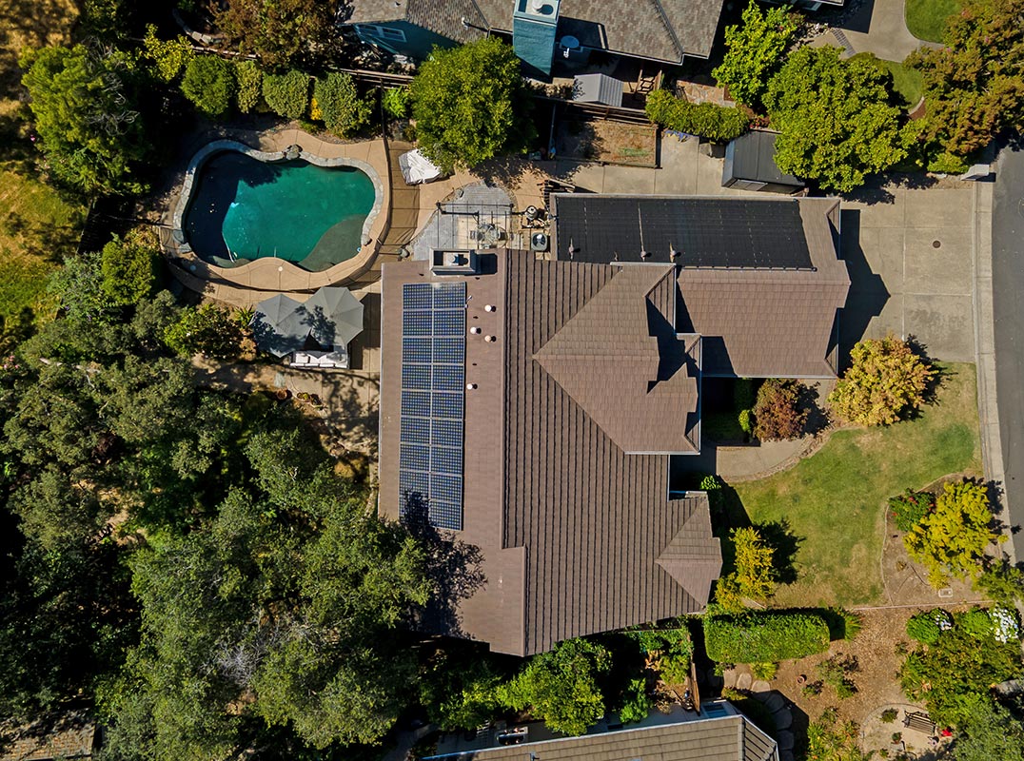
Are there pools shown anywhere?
Yes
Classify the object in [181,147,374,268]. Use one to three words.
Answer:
swimming pool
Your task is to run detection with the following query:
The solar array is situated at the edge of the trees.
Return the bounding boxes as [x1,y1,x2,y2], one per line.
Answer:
[401,277,465,534]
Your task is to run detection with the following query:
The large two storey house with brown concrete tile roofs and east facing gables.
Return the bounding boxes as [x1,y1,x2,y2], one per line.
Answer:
[381,193,852,657]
